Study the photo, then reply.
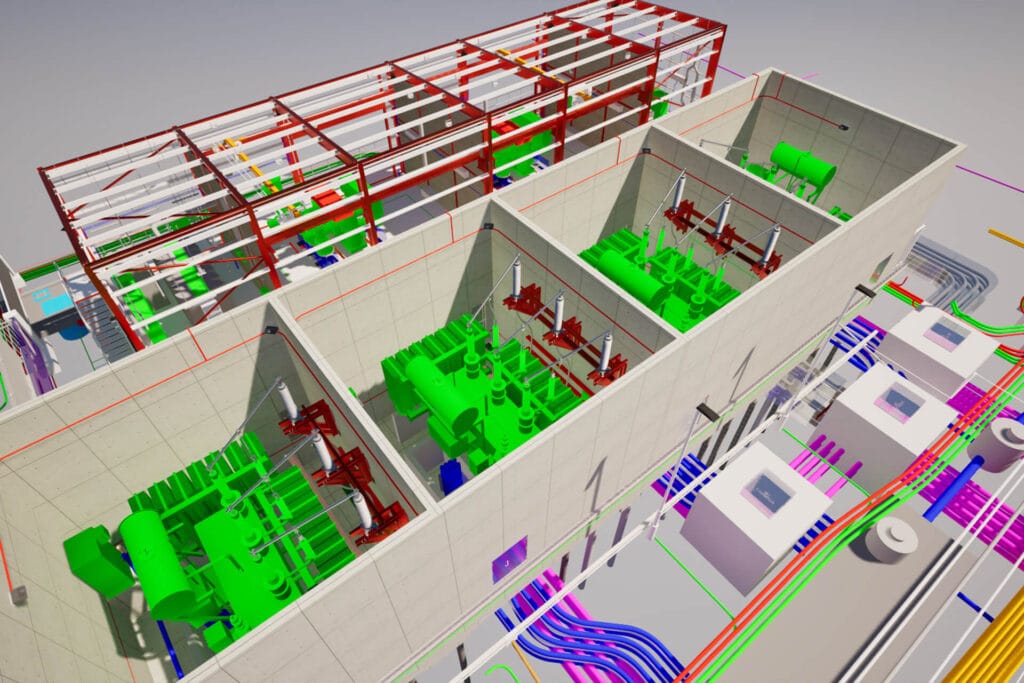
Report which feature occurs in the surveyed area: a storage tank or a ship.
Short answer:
storage tank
